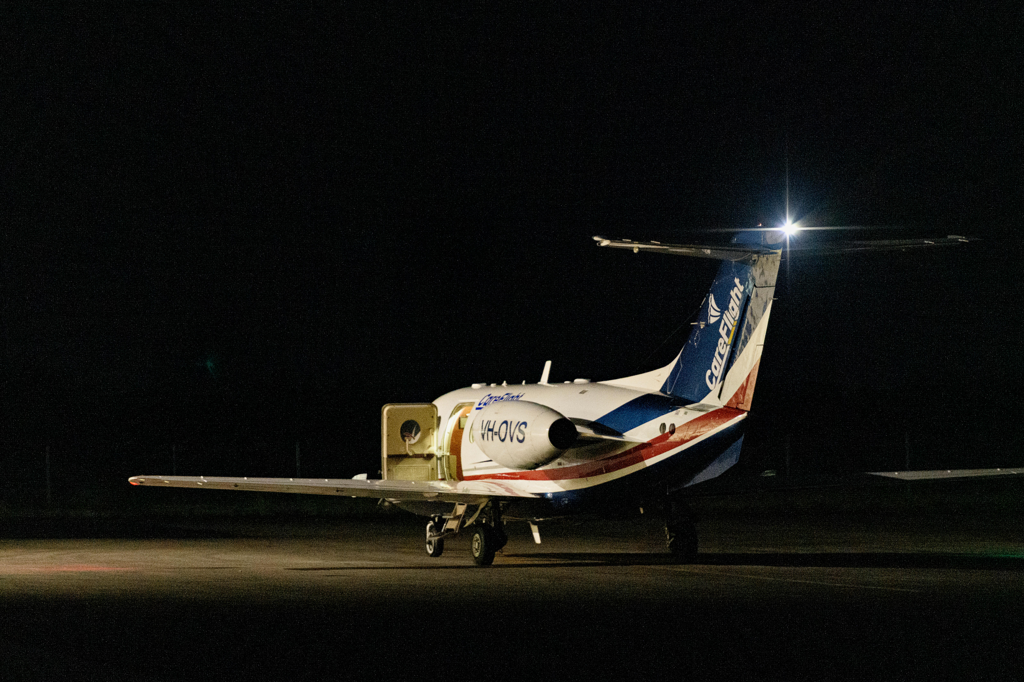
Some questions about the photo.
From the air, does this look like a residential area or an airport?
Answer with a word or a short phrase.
airport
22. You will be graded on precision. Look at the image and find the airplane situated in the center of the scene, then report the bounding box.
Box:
[129,223,1024,565]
